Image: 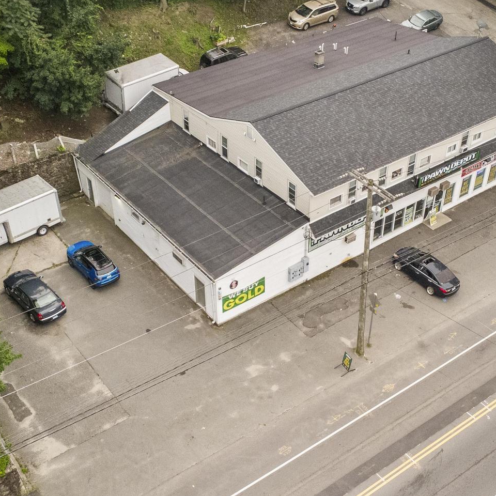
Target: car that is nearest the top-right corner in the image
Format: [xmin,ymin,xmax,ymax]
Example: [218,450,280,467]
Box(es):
[397,7,448,31]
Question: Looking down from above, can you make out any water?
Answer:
No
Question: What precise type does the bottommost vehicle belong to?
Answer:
automobile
